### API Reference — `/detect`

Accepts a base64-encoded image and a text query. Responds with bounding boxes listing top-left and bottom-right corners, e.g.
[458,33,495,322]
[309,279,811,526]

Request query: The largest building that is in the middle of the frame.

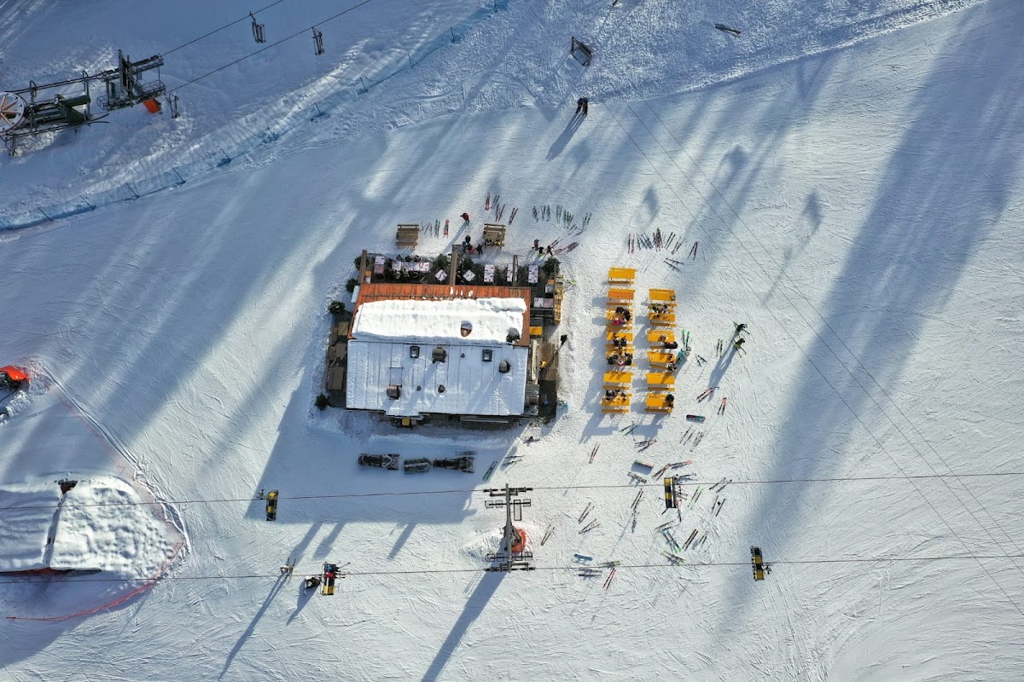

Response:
[346,283,532,422]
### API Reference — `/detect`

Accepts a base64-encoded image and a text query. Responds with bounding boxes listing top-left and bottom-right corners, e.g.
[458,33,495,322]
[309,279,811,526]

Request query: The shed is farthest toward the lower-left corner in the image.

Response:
[0,477,178,574]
